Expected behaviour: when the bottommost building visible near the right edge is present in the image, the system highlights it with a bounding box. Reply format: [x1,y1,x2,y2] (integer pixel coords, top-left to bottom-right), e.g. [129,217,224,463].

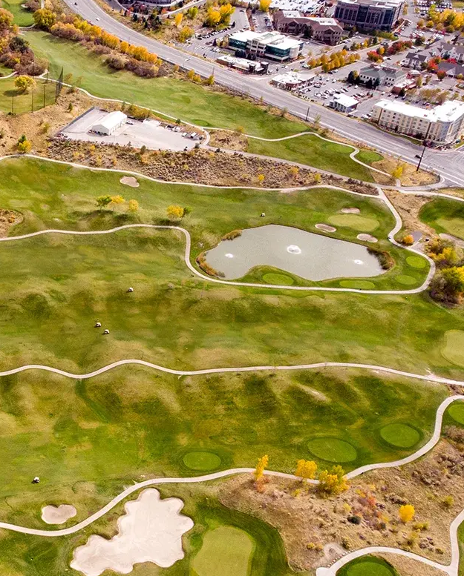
[369,96,464,144]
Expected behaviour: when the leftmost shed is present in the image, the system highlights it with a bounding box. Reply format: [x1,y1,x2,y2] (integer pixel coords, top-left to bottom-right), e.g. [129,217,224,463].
[89,111,128,136]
